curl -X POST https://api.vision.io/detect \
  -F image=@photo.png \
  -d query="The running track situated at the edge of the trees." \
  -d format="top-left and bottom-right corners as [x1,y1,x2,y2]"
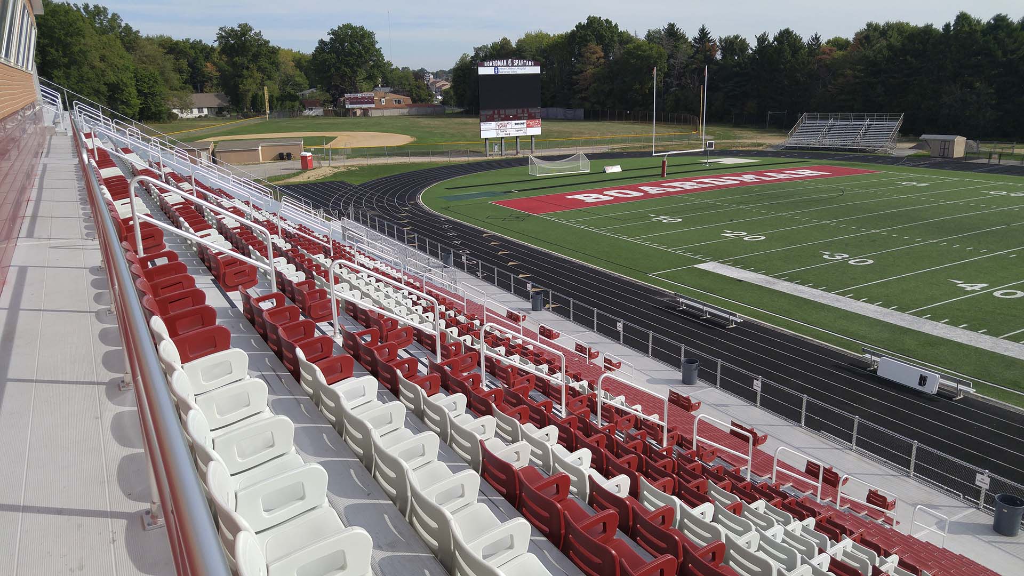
[332,150,1024,524]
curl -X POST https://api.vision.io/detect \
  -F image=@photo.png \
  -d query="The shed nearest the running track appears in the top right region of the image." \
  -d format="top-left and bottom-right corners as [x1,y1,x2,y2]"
[921,132,970,157]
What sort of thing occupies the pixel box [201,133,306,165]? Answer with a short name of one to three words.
building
